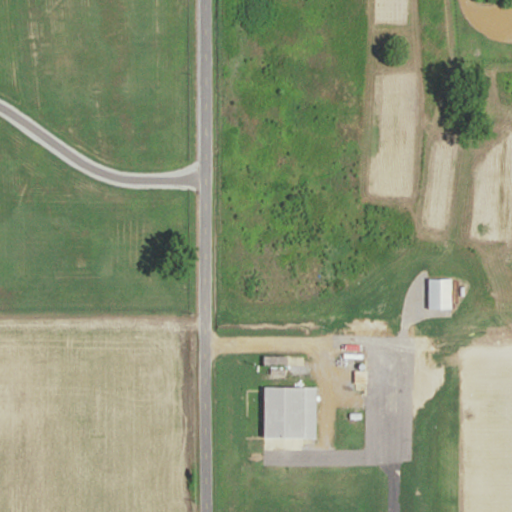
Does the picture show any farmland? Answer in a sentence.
Yes, farmland can be seen from above here.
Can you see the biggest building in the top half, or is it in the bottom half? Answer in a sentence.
It is in the bottom half that the biggest building appears.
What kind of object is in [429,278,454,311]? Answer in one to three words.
house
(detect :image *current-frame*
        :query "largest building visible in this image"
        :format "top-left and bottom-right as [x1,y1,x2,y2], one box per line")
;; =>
[264,388,317,440]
